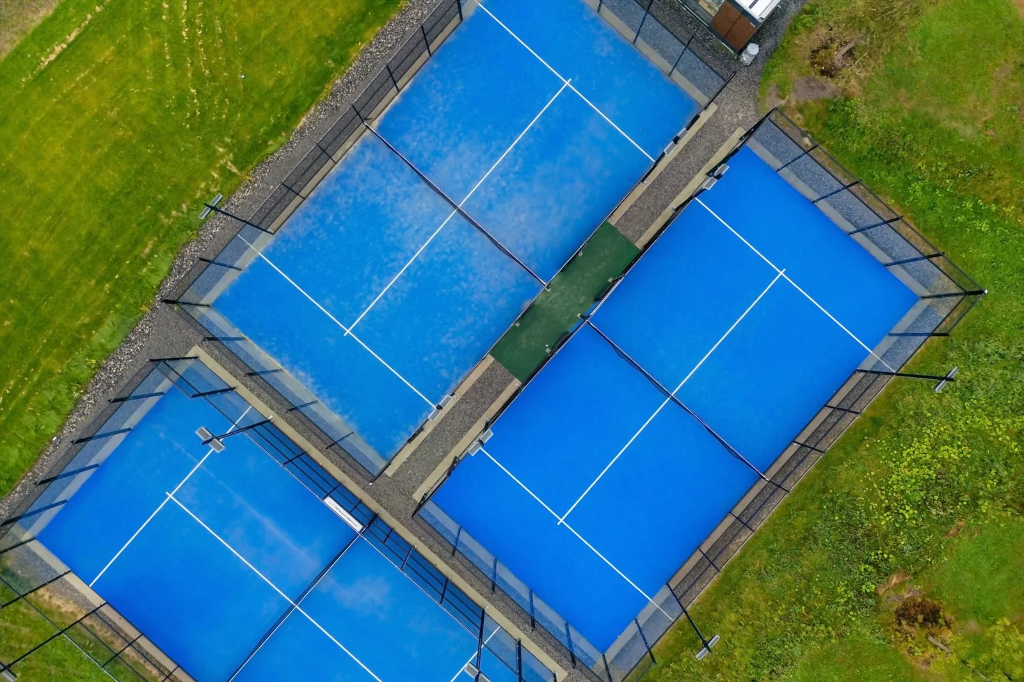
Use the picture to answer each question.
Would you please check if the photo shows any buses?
No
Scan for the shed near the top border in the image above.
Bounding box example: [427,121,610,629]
[676,0,785,53]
